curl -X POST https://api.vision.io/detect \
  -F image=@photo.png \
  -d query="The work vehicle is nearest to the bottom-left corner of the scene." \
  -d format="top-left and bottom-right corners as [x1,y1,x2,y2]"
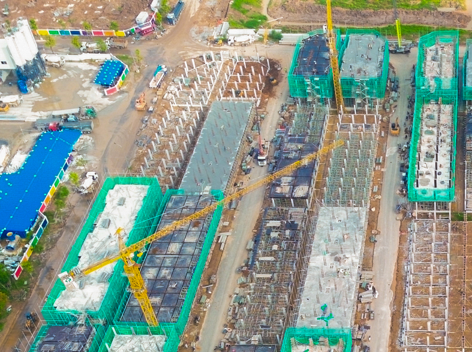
[19,309,36,329]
